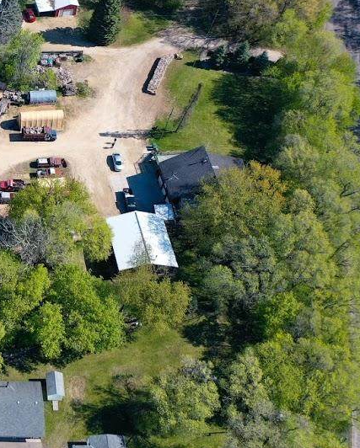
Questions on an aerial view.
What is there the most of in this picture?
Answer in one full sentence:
The scene is dominated by trees.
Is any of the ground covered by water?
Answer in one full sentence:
No, the picture contains no water.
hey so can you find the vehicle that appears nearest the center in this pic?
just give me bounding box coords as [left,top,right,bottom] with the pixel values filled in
[123,185,135,210]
